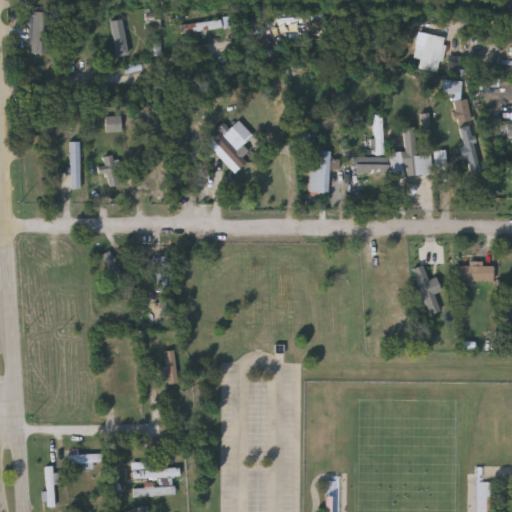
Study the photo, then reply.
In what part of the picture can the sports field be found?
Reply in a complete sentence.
You can find the sports field in the bottom right area of the picture.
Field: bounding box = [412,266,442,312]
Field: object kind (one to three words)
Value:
house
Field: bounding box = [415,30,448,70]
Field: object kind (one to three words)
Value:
building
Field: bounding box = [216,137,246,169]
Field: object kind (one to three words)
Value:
house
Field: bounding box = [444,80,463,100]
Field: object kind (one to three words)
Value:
building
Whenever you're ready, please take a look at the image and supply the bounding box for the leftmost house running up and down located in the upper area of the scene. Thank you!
[29,12,46,54]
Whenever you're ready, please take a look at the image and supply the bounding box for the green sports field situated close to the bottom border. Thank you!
[355,400,460,512]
